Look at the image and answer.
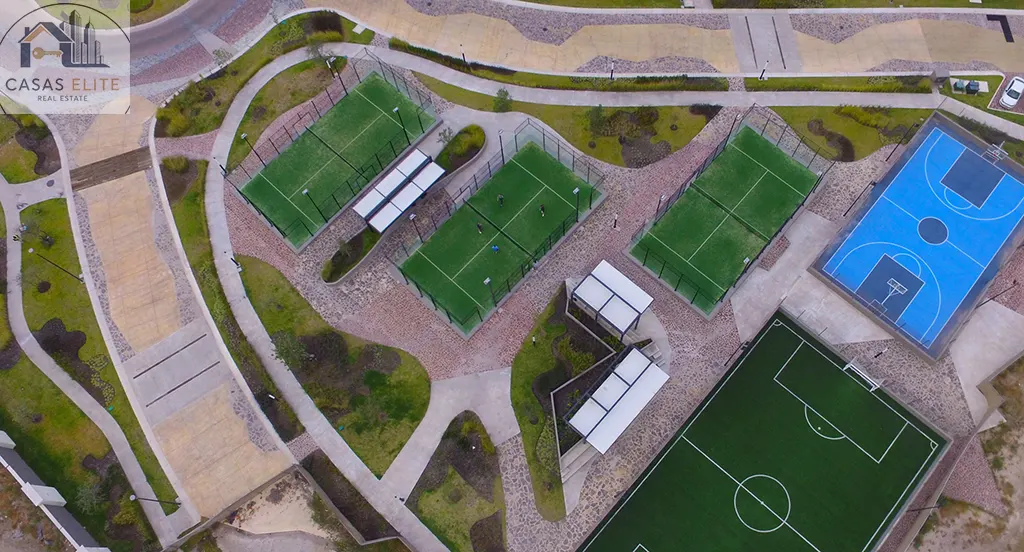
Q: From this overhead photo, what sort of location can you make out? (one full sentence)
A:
What you see here is a sports ground.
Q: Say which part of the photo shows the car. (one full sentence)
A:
The car is located in the top right region of the scene.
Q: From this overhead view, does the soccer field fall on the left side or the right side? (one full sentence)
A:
You can find the soccer field on the right side of the picture.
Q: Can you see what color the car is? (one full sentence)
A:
The car is white.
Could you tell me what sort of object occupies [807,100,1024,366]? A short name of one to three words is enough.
basketball court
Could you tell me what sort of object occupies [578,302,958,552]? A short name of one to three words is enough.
soccer field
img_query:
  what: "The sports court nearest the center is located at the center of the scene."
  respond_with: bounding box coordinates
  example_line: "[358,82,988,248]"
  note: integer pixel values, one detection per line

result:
[389,120,610,342]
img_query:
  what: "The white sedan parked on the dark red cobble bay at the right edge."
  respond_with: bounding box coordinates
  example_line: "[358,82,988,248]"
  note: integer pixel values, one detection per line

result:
[1001,67,1024,106]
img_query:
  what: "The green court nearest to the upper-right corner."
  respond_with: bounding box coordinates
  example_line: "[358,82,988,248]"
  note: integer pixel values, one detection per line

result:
[621,104,833,323]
